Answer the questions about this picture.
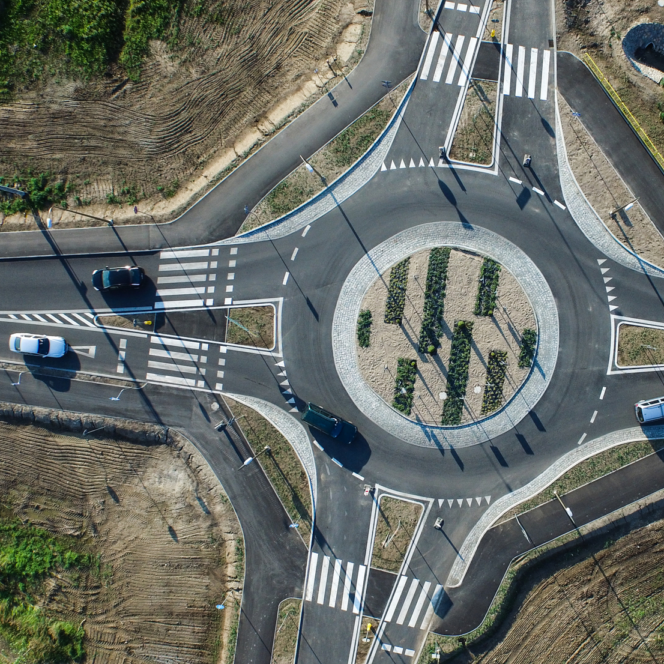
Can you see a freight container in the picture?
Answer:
No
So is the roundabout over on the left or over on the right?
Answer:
right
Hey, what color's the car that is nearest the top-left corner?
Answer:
black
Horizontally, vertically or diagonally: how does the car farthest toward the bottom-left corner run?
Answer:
horizontally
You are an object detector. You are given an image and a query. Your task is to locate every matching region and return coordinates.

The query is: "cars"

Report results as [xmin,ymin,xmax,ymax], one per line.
[90,265,146,293]
[301,401,363,443]
[633,396,664,423]
[7,331,71,360]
